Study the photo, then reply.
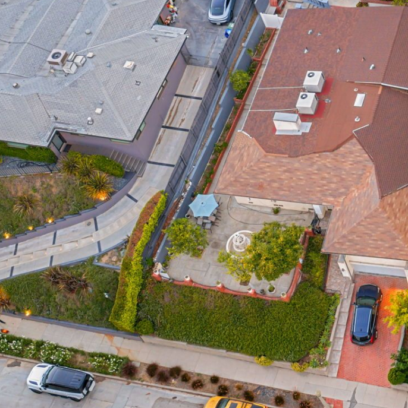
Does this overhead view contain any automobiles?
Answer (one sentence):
Yes, I can see an automobile in this picture.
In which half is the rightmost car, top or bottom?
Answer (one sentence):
The rightmost car sits in the bottom half of the picture.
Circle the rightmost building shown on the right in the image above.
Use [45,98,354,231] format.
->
[214,6,408,275]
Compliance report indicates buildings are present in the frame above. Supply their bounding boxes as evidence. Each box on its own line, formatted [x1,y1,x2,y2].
[214,6,408,275]
[0,0,191,164]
